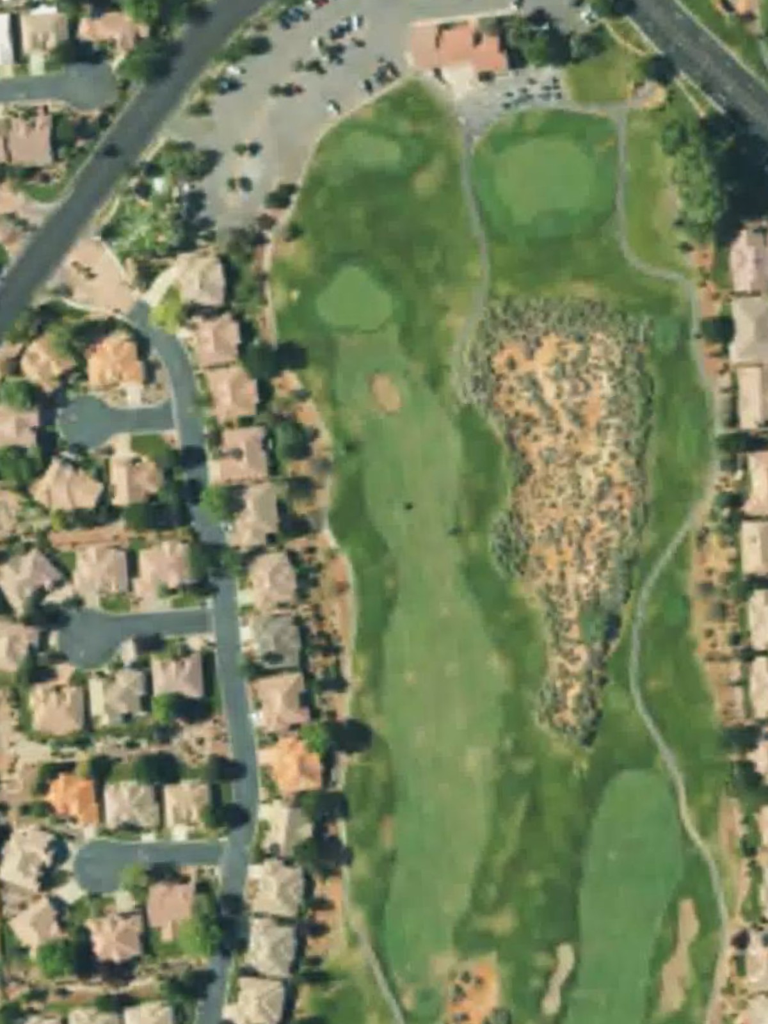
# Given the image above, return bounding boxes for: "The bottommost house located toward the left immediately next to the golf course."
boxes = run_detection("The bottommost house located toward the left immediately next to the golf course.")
[222,978,285,1024]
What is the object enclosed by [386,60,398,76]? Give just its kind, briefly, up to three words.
vehicle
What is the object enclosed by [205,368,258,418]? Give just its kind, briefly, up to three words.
house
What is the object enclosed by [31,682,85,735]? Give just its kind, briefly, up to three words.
house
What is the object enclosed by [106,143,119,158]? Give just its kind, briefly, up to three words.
vehicle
